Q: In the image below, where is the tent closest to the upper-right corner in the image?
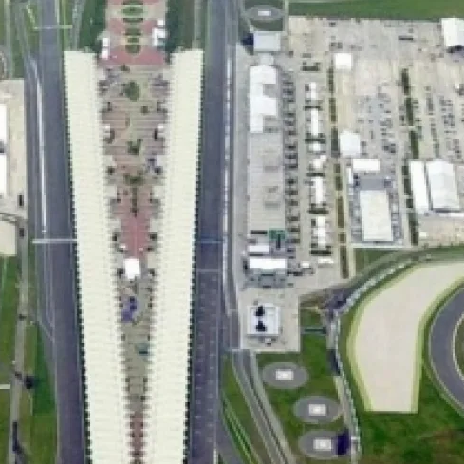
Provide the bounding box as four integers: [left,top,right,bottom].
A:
[336,51,352,73]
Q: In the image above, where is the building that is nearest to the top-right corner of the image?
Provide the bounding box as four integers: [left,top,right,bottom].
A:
[442,14,464,52]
